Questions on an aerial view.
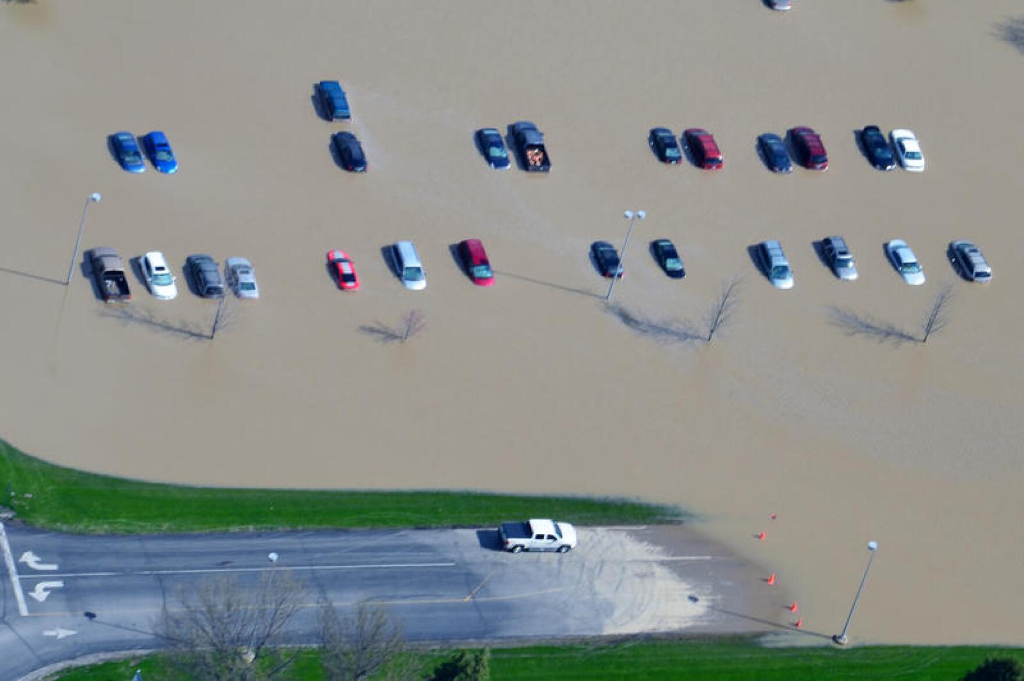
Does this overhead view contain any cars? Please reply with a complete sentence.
Yes, there's a car here.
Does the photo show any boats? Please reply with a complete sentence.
No, no boat can be seen from above.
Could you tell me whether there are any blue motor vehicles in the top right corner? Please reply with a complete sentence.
Yes, a blue motor vehicle can be seen in the top right corner.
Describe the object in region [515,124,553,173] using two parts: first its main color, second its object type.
blue truck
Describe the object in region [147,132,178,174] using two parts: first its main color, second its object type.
blue car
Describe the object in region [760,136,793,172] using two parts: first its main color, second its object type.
blue car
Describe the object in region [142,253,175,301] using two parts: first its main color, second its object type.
white car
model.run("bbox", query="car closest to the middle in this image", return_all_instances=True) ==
[461,237,497,286]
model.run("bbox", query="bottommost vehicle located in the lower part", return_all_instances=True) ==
[500,520,578,553]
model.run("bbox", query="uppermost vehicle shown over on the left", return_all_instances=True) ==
[320,83,354,122]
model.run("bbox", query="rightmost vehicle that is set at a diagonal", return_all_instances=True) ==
[955,242,992,283]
